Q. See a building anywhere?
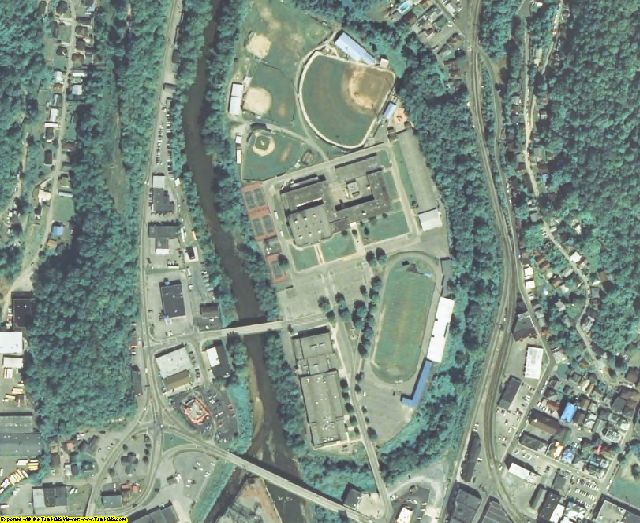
Yes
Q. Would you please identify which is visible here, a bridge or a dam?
bridge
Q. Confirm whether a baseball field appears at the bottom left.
No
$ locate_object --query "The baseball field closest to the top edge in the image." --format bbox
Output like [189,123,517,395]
[243,29,274,59]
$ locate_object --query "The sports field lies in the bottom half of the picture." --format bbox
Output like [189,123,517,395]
[371,249,439,388]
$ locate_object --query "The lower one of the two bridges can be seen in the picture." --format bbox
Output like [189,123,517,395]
[198,437,381,523]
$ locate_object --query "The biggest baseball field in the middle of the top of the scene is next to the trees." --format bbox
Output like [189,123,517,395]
[299,51,395,151]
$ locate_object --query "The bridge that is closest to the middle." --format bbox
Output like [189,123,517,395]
[199,318,298,339]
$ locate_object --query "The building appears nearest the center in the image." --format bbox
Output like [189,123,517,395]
[283,158,396,245]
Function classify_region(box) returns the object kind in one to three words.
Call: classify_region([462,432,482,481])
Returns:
building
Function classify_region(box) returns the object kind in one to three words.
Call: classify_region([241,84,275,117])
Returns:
baseball field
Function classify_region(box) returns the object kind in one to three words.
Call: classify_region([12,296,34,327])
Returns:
building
